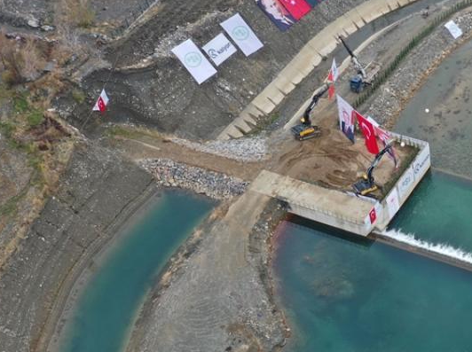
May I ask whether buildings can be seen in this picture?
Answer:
No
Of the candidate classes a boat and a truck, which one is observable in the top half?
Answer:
truck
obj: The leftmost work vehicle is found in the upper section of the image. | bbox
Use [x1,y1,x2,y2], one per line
[297,84,339,141]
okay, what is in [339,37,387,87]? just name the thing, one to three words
truck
